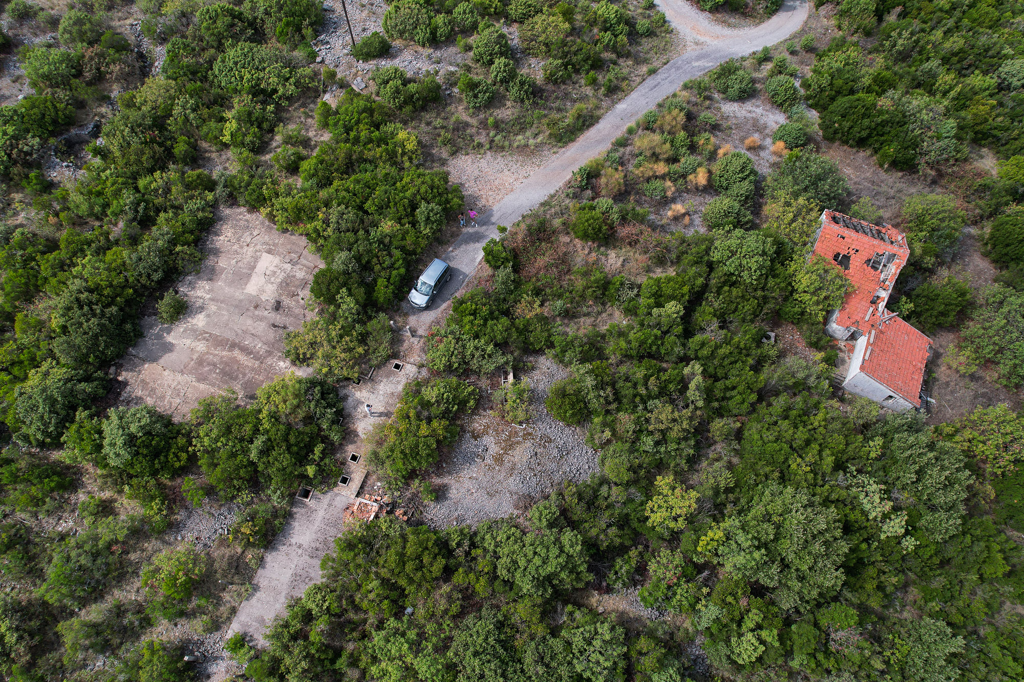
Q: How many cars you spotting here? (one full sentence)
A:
Only 1 car is visible.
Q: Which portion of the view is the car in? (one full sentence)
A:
The car is located in the center region of the scene.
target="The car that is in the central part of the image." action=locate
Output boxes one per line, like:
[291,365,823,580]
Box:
[407,258,455,310]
